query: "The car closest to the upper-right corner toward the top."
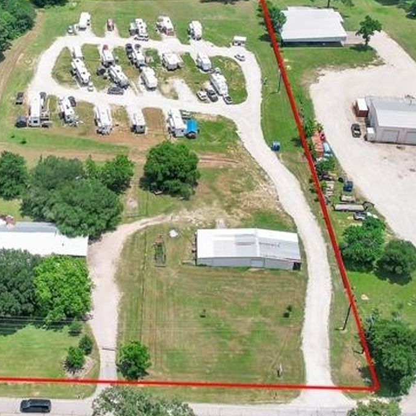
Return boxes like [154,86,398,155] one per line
[350,123,364,138]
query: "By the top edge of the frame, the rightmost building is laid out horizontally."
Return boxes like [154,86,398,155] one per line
[270,9,350,47]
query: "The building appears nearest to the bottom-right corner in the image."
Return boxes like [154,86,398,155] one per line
[194,227,305,270]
